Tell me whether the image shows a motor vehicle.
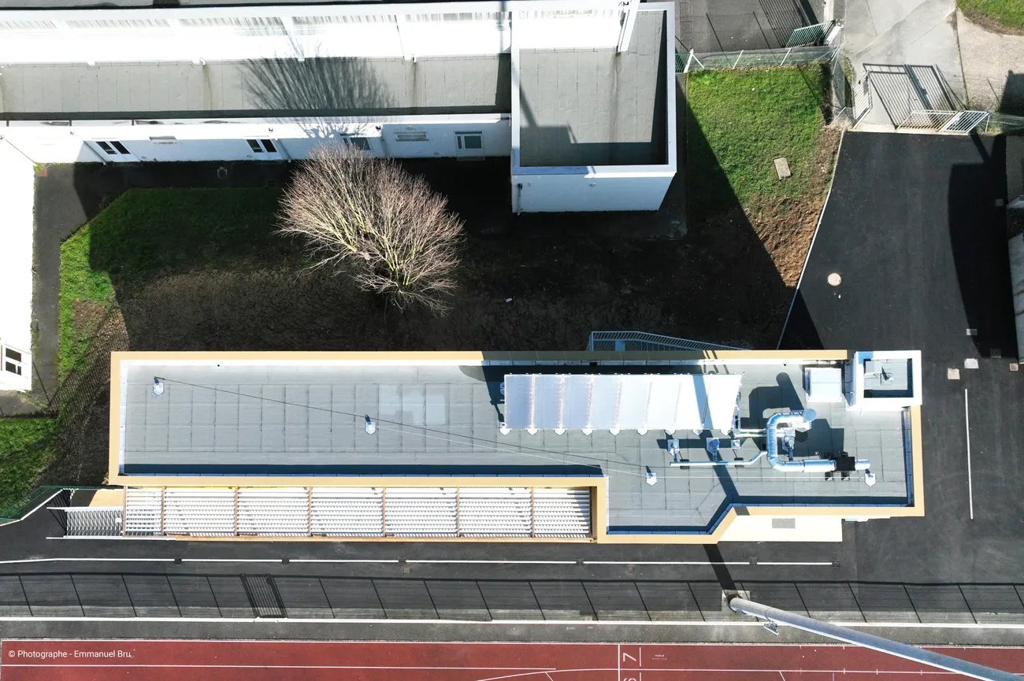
No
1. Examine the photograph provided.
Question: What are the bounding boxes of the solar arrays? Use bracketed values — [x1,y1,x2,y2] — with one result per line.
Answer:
[500,373,743,435]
